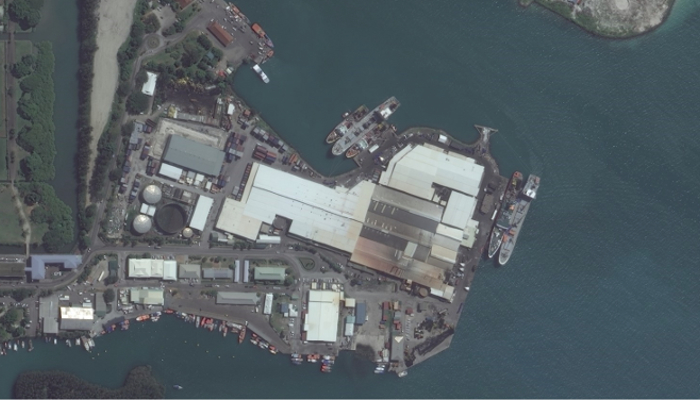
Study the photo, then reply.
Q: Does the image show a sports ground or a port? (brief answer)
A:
port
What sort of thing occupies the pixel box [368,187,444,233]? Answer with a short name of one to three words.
shed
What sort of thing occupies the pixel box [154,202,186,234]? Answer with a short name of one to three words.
storage tank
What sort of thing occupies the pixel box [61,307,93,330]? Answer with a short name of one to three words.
building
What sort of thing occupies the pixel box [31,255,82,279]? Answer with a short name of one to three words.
building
